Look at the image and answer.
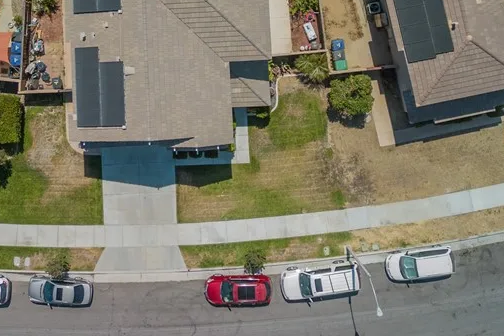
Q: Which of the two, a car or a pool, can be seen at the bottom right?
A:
car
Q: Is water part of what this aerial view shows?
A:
No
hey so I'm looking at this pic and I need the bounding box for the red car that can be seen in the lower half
[204,272,270,309]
